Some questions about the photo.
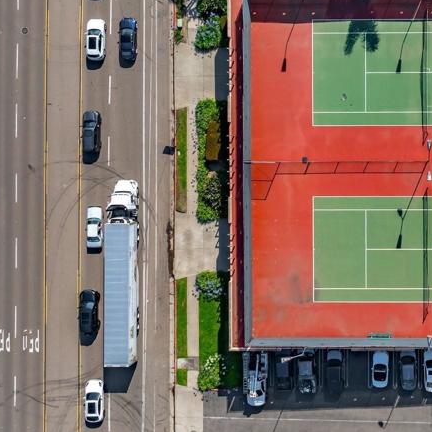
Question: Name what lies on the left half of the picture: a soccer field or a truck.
truck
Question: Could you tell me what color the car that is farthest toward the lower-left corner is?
white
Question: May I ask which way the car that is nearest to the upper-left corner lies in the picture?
from top to bottom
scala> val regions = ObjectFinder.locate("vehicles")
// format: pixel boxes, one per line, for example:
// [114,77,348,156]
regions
[399,350,416,390]
[81,112,104,154]
[277,349,293,389]
[79,290,102,335]
[84,378,106,423]
[86,20,107,61]
[423,350,432,392]
[118,19,139,60]
[85,207,105,248]
[105,177,143,367]
[245,353,266,404]
[372,349,389,388]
